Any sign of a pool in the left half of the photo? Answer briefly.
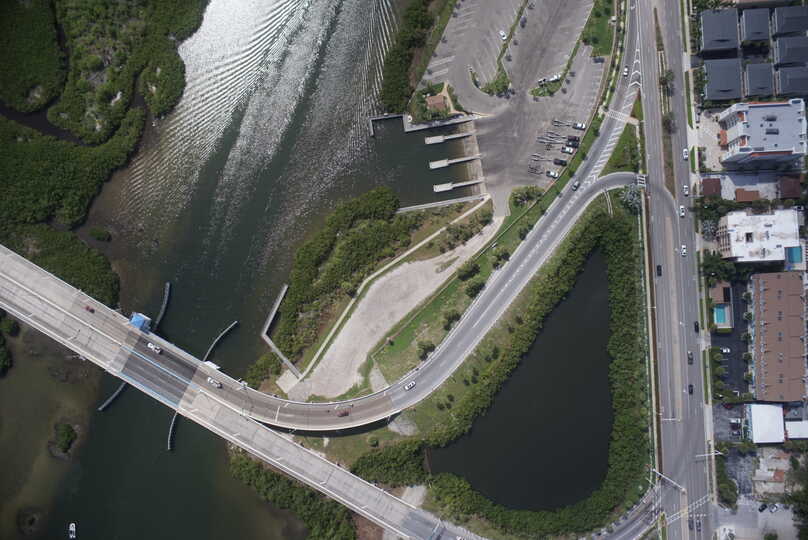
No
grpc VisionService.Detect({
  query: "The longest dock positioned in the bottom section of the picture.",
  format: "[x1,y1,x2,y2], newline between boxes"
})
[262,285,301,379]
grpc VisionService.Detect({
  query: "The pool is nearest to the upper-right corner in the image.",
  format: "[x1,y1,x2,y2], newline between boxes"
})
[784,244,806,270]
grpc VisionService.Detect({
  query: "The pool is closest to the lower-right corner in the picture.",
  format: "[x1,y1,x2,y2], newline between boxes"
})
[712,302,734,328]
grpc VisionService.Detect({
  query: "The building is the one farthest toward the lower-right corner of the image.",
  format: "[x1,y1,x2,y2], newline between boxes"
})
[750,468,786,482]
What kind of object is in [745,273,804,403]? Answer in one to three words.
building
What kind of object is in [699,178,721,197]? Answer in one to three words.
house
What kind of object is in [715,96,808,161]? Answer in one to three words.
building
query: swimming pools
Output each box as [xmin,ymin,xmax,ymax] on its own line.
[712,302,734,328]
[784,244,806,270]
